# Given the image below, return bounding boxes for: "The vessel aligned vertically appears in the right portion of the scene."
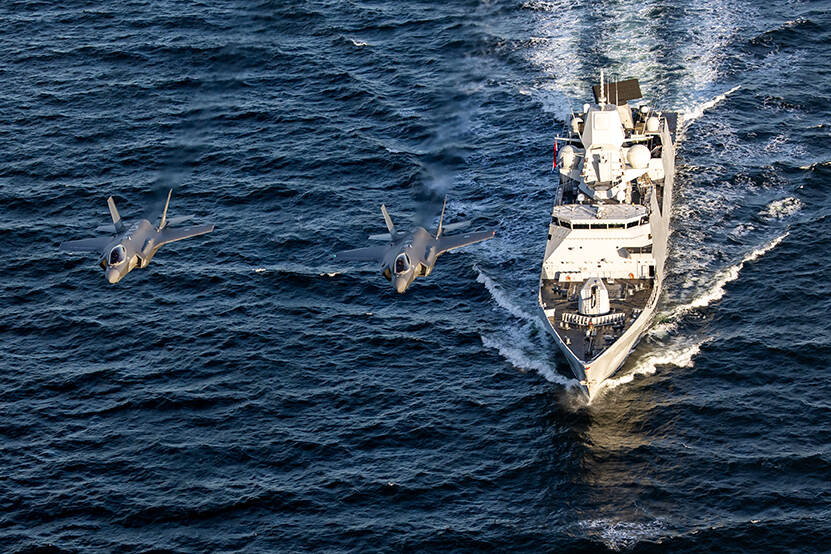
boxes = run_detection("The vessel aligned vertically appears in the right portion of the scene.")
[540,73,689,398]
